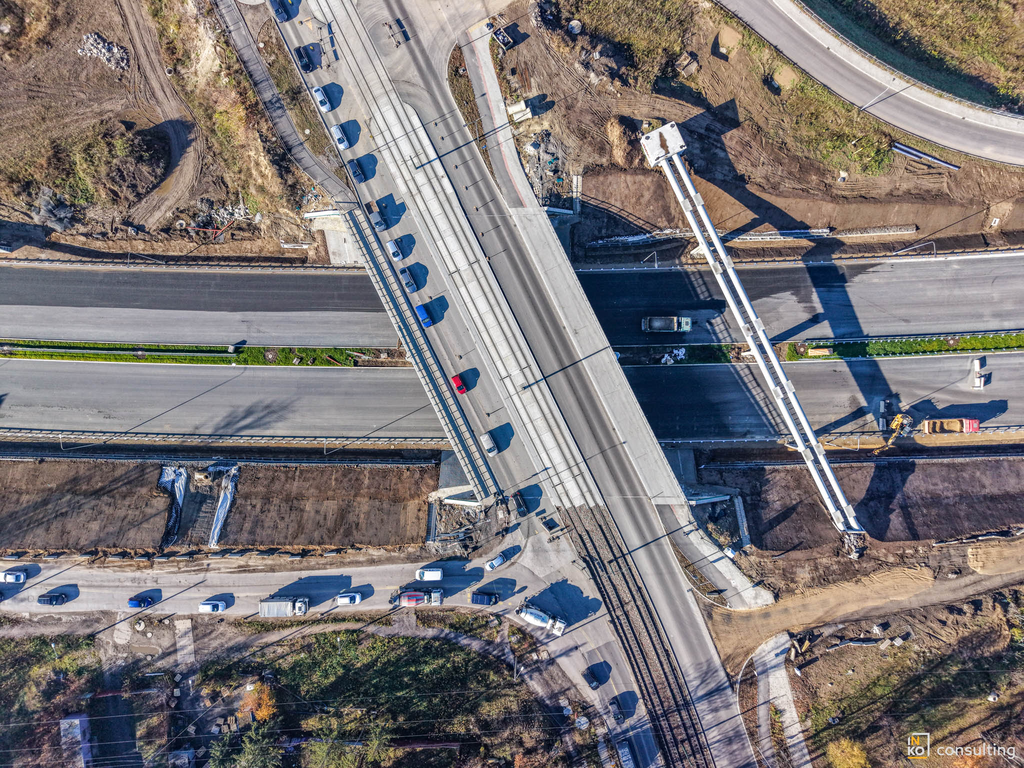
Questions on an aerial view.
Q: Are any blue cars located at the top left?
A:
Yes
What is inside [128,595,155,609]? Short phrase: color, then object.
blue car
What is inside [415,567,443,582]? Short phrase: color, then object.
white vehicle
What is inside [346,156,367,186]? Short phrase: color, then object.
blue car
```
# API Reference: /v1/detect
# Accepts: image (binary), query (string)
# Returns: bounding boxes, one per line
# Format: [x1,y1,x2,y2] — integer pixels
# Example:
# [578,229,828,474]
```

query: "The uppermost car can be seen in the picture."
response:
[269,0,290,25]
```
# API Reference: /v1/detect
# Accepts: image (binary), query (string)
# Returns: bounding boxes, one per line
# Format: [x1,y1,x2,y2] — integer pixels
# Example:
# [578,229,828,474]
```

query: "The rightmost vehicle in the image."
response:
[918,416,981,435]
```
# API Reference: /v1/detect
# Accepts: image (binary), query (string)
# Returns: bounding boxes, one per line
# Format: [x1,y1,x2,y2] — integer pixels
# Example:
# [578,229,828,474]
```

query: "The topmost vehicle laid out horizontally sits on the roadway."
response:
[641,315,692,334]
